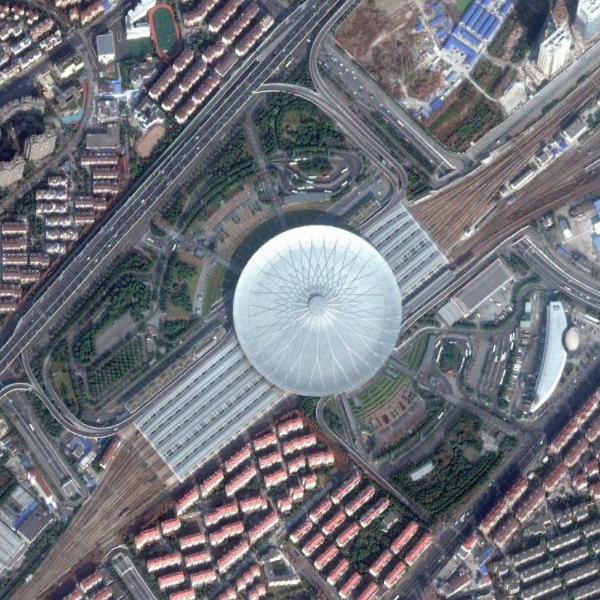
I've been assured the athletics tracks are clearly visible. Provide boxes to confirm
[149,3,182,60]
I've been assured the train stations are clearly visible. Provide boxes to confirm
[133,202,448,479]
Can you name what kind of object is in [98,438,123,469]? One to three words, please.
house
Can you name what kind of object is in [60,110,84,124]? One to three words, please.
swimming pool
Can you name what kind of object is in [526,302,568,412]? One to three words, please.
building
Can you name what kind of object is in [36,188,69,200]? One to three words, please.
building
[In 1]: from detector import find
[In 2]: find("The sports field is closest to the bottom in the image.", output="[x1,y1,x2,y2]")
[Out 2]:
[133,124,166,159]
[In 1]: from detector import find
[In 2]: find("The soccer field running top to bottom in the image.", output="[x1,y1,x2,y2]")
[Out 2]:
[153,8,178,56]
